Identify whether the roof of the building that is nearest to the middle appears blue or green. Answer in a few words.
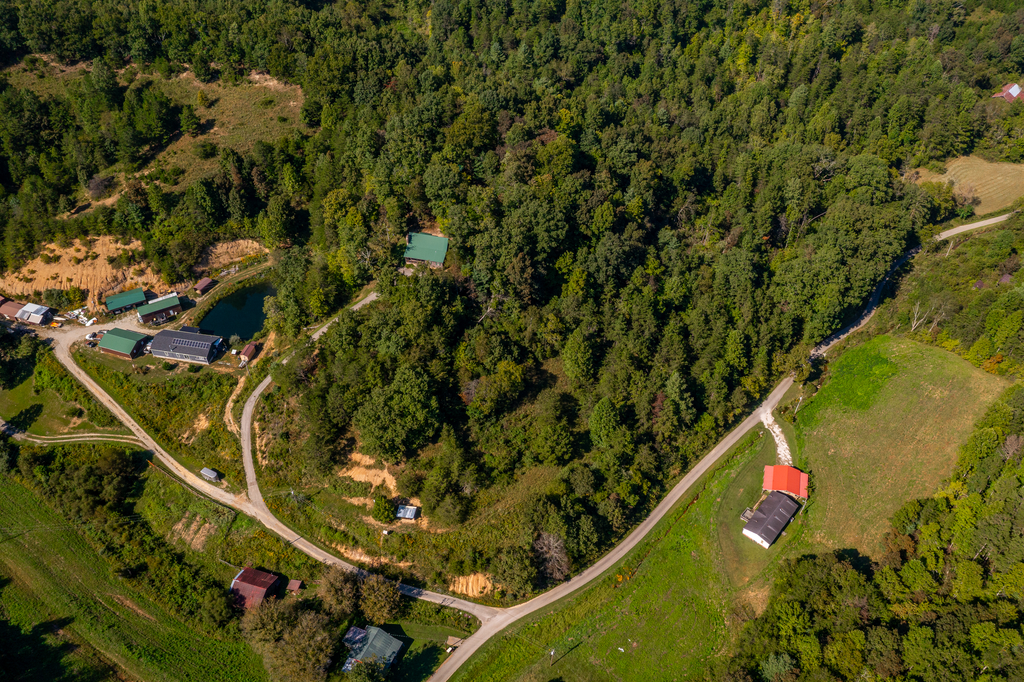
green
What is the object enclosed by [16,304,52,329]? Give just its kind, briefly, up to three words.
shed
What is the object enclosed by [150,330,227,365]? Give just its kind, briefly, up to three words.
house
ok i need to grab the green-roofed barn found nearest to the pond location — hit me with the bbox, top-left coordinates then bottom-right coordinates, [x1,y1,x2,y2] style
[137,293,182,322]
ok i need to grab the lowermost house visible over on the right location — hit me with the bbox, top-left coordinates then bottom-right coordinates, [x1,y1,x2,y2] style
[742,491,798,551]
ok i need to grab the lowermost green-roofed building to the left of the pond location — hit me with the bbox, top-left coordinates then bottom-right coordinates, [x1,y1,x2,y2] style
[98,328,148,361]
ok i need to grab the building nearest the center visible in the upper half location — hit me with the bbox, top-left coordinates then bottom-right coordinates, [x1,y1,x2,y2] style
[404,232,452,272]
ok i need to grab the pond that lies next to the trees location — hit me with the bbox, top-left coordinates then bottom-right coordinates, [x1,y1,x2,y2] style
[199,285,286,341]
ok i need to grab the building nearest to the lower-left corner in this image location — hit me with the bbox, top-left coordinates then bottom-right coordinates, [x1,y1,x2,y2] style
[229,567,279,607]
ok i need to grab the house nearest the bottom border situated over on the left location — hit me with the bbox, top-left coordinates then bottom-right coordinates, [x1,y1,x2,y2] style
[342,623,403,678]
